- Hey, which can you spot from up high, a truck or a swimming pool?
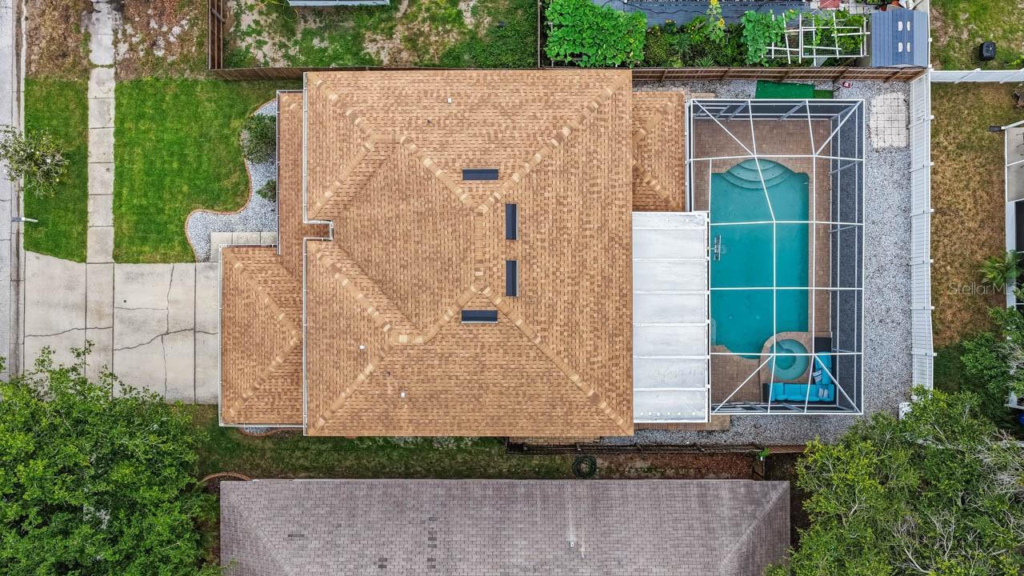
swimming pool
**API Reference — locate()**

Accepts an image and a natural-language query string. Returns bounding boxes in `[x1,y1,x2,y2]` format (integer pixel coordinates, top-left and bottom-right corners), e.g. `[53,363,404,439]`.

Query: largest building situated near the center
[217,69,692,436]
